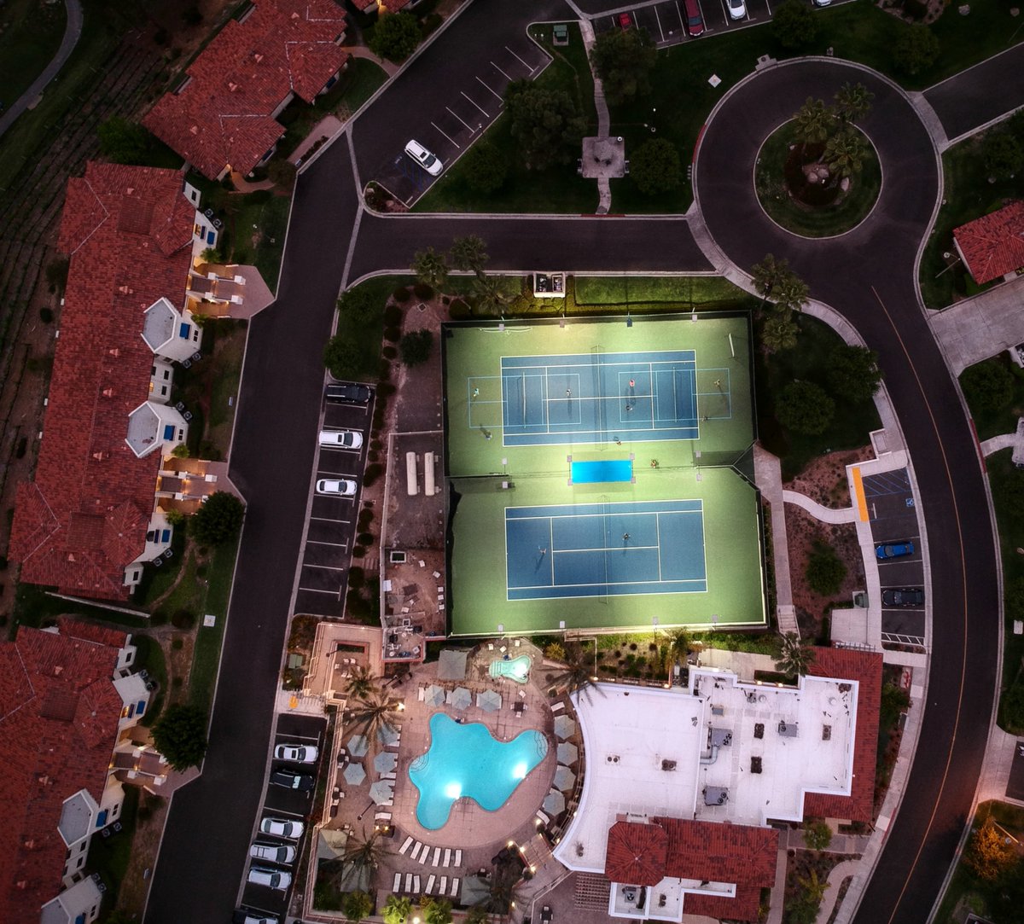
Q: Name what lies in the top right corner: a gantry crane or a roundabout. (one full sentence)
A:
What appears in the top right corner is a roundabout.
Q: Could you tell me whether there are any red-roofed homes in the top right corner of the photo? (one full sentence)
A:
Yes, a red-roofed home can be seen in the top right corner of the photo.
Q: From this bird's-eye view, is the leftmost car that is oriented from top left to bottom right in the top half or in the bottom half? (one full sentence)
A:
You can find the leftmost car that is oriented from top left to bottom right in the top half.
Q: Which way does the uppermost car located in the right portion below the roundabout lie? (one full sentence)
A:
The uppermost car located in the right portion below the roundabout is oriented horizontally.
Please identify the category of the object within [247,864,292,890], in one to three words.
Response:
car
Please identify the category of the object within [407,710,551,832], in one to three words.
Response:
swimming pool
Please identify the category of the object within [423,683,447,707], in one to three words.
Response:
umbrella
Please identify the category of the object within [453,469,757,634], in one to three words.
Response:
tennis court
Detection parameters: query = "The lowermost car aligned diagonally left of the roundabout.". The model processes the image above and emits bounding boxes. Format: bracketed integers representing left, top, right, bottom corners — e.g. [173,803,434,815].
[404,139,441,175]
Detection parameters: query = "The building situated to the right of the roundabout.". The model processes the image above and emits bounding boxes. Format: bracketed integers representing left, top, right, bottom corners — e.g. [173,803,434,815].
[951,202,1024,285]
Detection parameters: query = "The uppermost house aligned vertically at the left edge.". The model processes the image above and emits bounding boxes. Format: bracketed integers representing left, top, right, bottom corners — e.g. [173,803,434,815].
[7,161,214,601]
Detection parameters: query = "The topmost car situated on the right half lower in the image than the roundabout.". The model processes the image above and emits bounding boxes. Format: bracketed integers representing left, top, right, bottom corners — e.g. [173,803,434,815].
[874,541,915,561]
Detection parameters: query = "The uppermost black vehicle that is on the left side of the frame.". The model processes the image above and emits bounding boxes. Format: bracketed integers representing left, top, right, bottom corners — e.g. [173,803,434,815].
[328,383,369,402]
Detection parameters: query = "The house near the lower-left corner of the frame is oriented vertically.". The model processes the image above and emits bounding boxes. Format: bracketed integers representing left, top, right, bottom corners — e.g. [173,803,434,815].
[0,617,149,924]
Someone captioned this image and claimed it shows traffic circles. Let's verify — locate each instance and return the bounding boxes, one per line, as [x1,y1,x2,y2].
[696,59,939,299]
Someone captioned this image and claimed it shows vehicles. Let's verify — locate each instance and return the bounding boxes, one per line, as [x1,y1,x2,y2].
[317,478,357,497]
[682,0,706,36]
[876,587,929,609]
[404,139,441,175]
[249,840,297,867]
[262,816,304,840]
[615,4,637,38]
[723,0,746,25]
[328,383,369,402]
[276,742,317,764]
[247,864,292,890]
[320,430,361,450]
[236,907,280,924]
[874,541,915,561]
[267,767,319,793]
